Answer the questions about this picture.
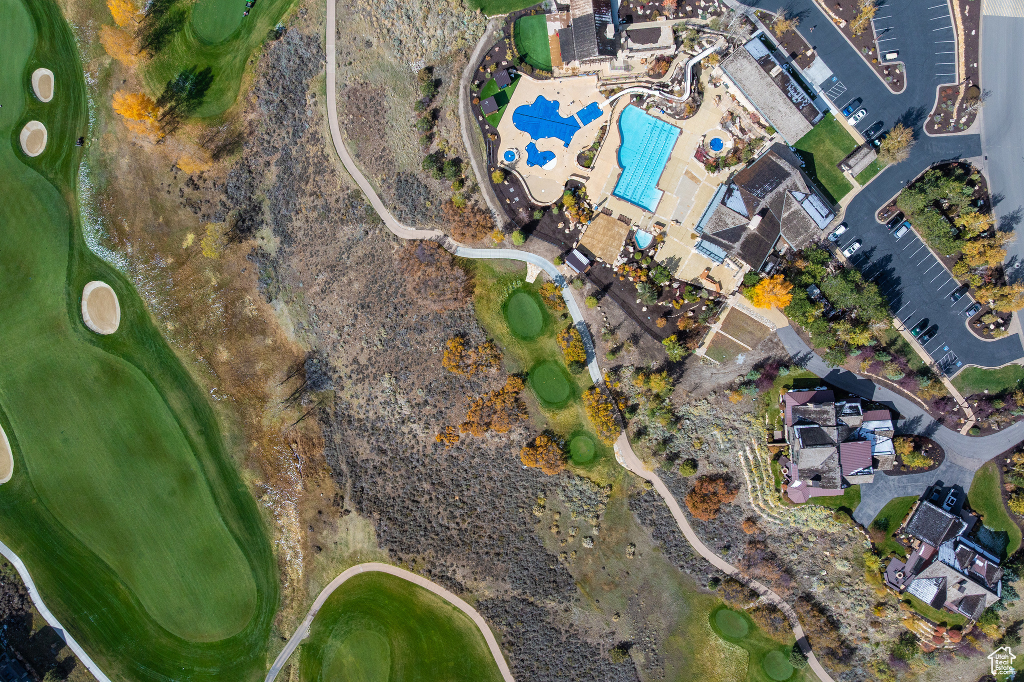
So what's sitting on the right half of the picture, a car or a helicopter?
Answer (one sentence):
You can see a car on the right half of the picture.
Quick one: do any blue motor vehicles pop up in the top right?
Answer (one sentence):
Yes, a blue motor vehicle shows up in the top right.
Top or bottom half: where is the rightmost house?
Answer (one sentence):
It is in the bottom half that the rightmost house appears.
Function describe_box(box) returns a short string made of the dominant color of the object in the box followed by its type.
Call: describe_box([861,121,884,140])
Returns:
black vehicle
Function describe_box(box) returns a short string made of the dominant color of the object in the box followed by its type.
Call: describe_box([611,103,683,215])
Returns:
blue swimming pool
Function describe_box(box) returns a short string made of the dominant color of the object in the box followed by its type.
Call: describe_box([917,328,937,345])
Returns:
black car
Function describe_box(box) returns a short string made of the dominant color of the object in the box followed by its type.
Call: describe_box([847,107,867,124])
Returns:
white car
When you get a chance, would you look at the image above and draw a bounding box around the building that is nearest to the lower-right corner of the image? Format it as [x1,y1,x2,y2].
[899,500,1004,620]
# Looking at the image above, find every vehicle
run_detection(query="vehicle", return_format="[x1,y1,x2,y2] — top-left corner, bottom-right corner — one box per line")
[927,482,945,504]
[965,302,981,317]
[885,215,903,230]
[881,51,899,61]
[909,321,928,337]
[847,107,867,124]
[842,241,861,258]
[841,96,864,116]
[893,221,911,239]
[917,328,937,345]
[869,132,884,149]
[827,224,847,242]
[944,490,959,510]
[948,286,968,303]
[861,121,884,140]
